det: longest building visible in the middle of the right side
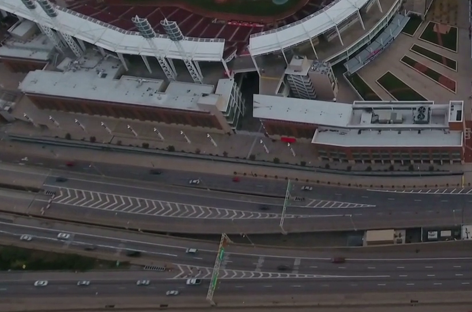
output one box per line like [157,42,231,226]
[253,95,464,163]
